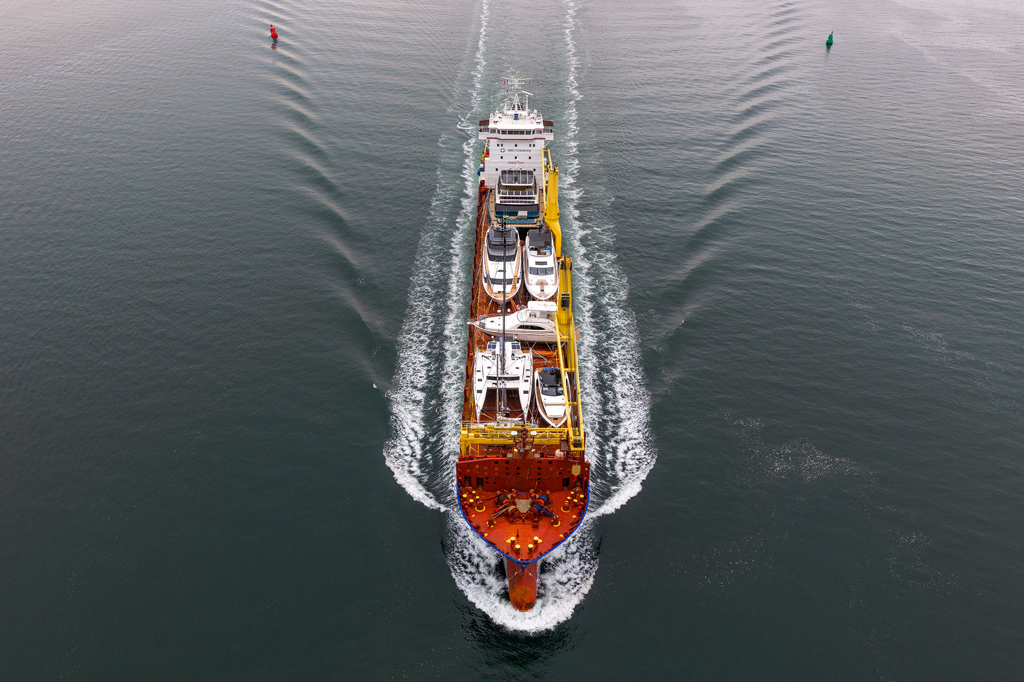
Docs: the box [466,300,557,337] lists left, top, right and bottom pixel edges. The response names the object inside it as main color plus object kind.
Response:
white boat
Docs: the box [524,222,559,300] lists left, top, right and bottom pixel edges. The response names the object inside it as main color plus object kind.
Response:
white boat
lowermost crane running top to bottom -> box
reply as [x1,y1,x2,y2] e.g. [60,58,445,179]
[553,258,585,496]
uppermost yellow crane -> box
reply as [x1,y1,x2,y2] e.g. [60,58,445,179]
[542,149,563,261]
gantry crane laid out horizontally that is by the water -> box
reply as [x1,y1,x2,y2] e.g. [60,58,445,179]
[459,421,583,463]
